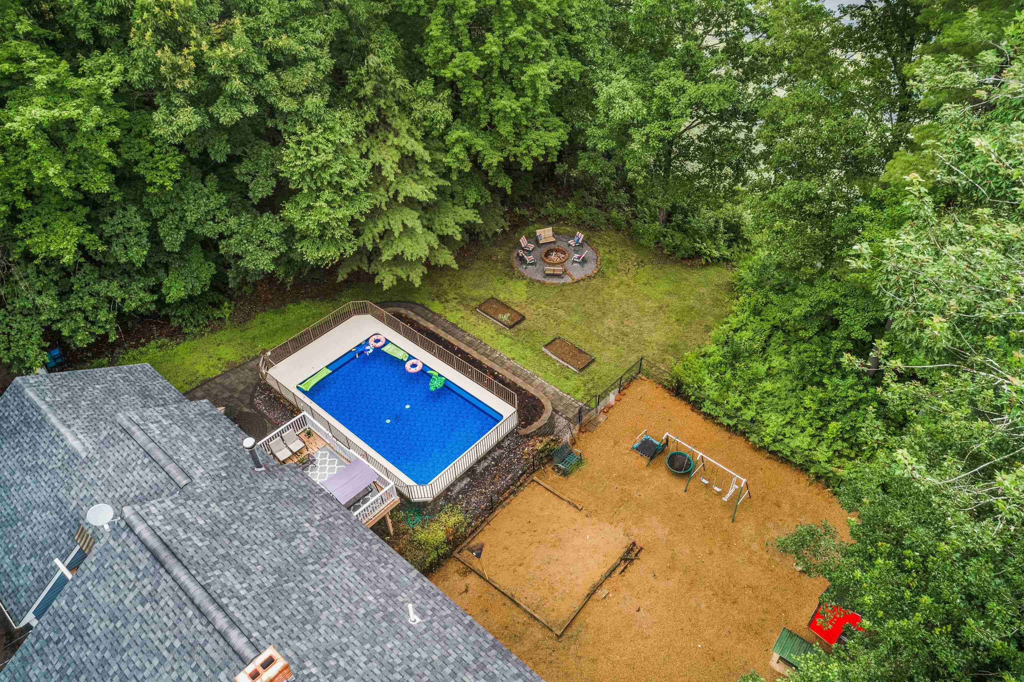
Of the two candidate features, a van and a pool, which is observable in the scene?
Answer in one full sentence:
This aerial view contains a pool.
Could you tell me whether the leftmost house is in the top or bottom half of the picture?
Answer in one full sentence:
The leftmost house sits in the bottom half of the picture.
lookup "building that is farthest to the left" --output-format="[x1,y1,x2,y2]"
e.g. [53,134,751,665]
[0,362,545,682]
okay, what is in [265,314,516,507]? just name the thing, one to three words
swimming pool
